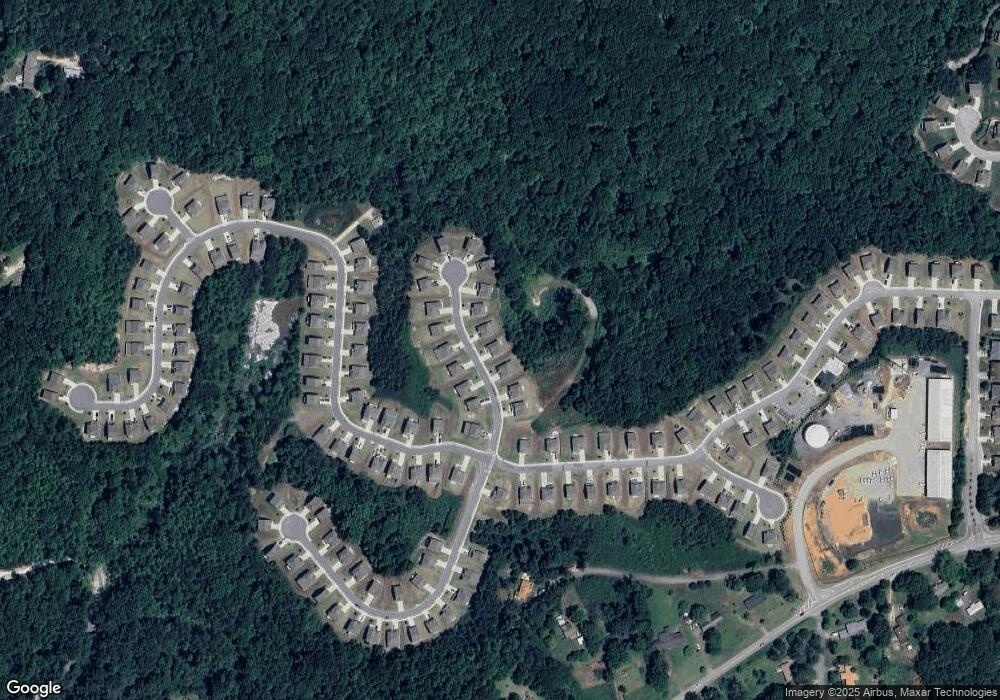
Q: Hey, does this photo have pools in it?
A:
Yes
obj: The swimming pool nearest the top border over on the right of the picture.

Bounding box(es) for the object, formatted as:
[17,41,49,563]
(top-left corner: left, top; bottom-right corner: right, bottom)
[813,355,846,391]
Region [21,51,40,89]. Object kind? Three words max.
house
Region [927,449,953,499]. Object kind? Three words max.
building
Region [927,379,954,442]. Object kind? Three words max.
building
